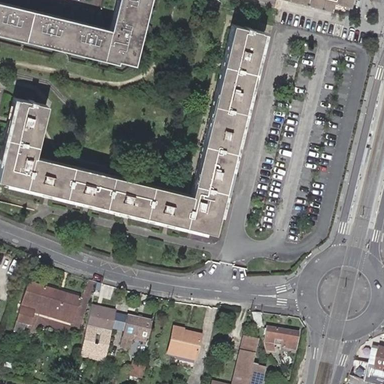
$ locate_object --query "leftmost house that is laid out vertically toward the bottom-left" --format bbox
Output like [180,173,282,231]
[80,304,116,360]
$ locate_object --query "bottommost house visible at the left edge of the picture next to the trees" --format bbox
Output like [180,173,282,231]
[15,280,96,332]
